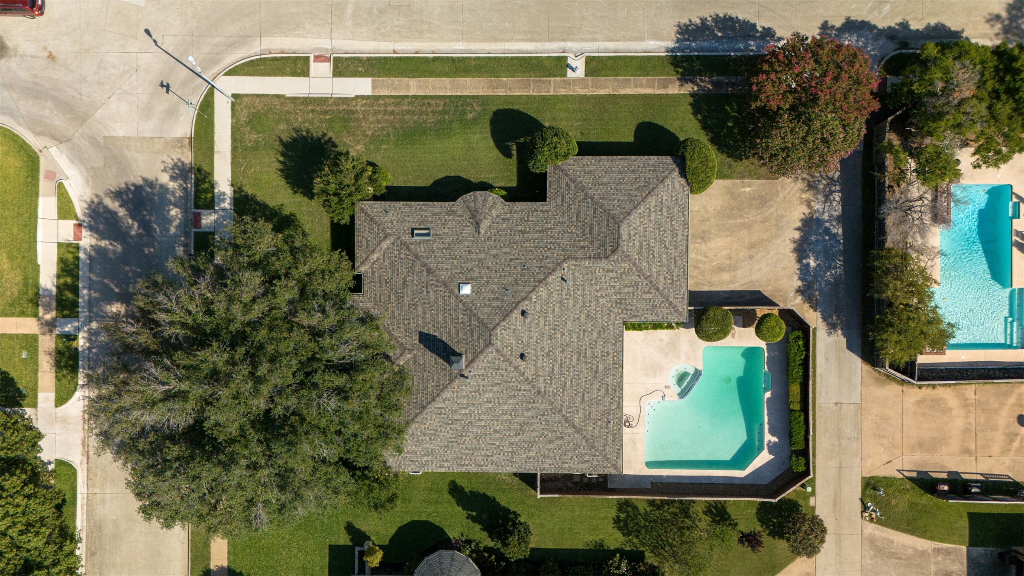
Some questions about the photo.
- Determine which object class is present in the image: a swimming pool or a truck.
swimming pool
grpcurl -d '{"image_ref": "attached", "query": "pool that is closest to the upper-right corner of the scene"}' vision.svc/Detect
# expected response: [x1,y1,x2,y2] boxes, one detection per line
[935,184,1024,349]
